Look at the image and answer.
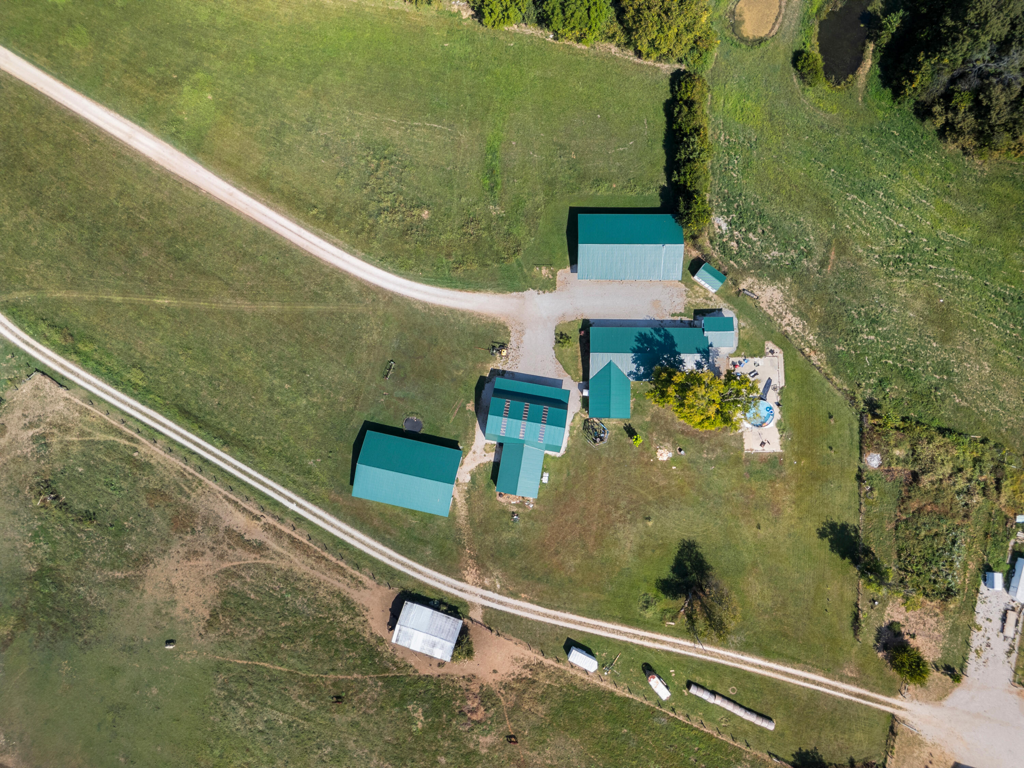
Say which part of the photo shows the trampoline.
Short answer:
center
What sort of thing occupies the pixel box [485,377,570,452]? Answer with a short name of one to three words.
barn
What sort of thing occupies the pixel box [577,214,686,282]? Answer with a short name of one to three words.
shed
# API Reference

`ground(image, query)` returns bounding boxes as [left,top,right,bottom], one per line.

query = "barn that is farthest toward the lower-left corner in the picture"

[392,599,464,662]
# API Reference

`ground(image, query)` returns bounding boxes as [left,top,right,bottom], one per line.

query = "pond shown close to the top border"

[733,0,779,41]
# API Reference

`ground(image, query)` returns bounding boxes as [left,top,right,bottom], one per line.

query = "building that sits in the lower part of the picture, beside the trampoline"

[354,431,462,514]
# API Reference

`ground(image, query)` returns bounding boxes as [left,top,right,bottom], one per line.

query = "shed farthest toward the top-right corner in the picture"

[694,262,727,292]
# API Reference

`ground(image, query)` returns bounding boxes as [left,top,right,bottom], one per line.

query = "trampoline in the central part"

[402,414,423,434]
